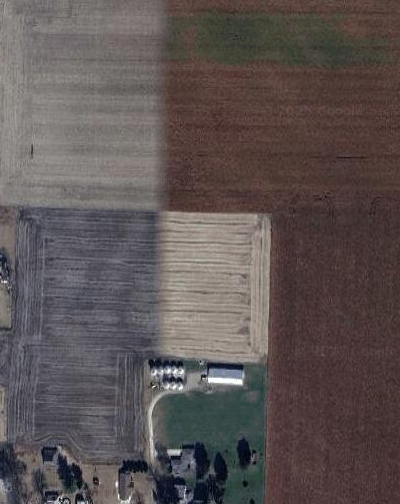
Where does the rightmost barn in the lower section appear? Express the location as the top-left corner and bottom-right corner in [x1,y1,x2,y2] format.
[208,366,244,385]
